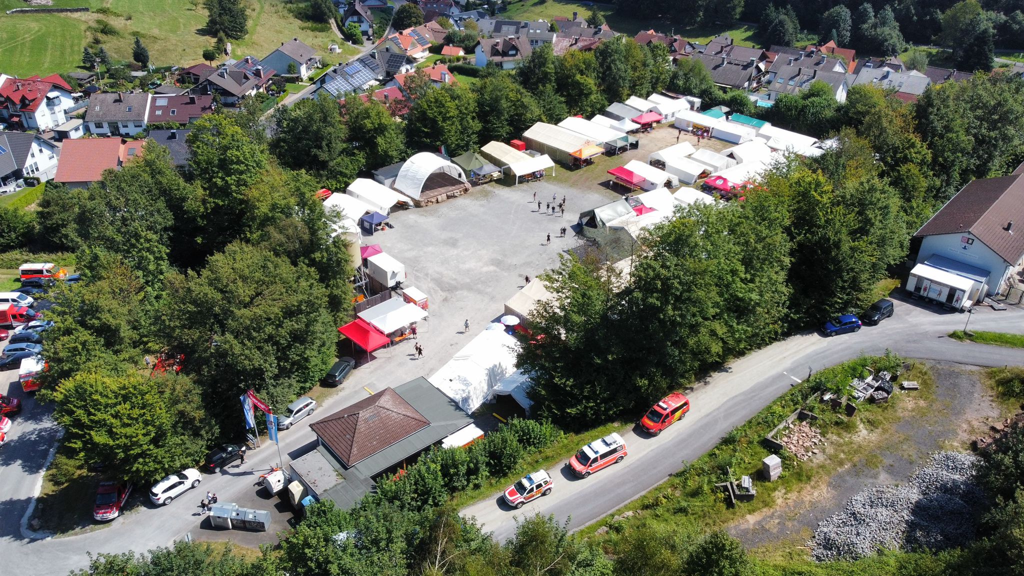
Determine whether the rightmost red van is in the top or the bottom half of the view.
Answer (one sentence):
Seen from above, the rightmost red van lies in the bottom half of the view.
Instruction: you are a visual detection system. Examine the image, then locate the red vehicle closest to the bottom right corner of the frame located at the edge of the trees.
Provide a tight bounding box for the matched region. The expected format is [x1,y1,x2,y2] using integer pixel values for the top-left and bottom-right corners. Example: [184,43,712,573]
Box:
[638,390,691,436]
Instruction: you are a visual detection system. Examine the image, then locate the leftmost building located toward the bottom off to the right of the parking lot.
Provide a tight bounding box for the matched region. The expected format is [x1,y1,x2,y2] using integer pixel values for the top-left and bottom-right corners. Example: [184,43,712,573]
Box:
[288,379,478,516]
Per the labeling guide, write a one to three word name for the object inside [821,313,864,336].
car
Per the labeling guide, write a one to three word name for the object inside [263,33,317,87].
house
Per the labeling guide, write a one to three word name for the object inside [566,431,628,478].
van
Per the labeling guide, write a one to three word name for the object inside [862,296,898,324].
car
